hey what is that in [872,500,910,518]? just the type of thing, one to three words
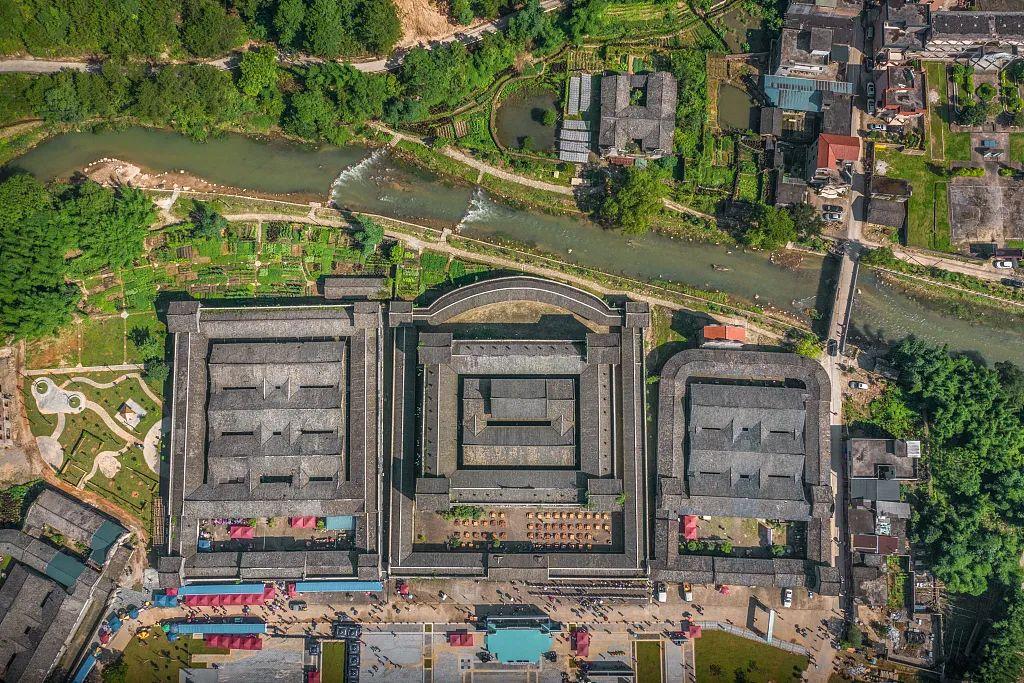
shed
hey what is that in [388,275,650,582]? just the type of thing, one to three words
building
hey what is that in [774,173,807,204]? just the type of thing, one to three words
house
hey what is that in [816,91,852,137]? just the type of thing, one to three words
house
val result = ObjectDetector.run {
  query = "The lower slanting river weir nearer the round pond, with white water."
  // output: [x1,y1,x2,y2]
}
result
[455,186,495,237]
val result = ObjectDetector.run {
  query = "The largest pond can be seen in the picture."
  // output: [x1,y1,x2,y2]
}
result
[496,91,557,151]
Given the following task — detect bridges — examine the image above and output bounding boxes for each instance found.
[829,246,860,347]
